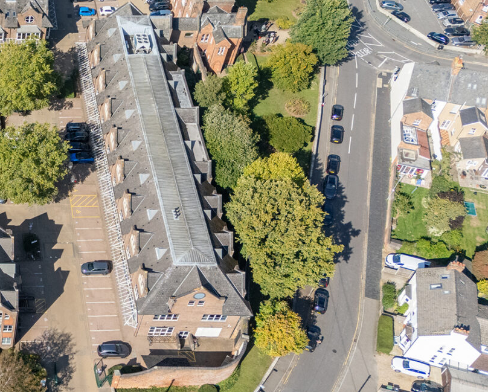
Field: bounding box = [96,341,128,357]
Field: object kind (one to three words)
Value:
car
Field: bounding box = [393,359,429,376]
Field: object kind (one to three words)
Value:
car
